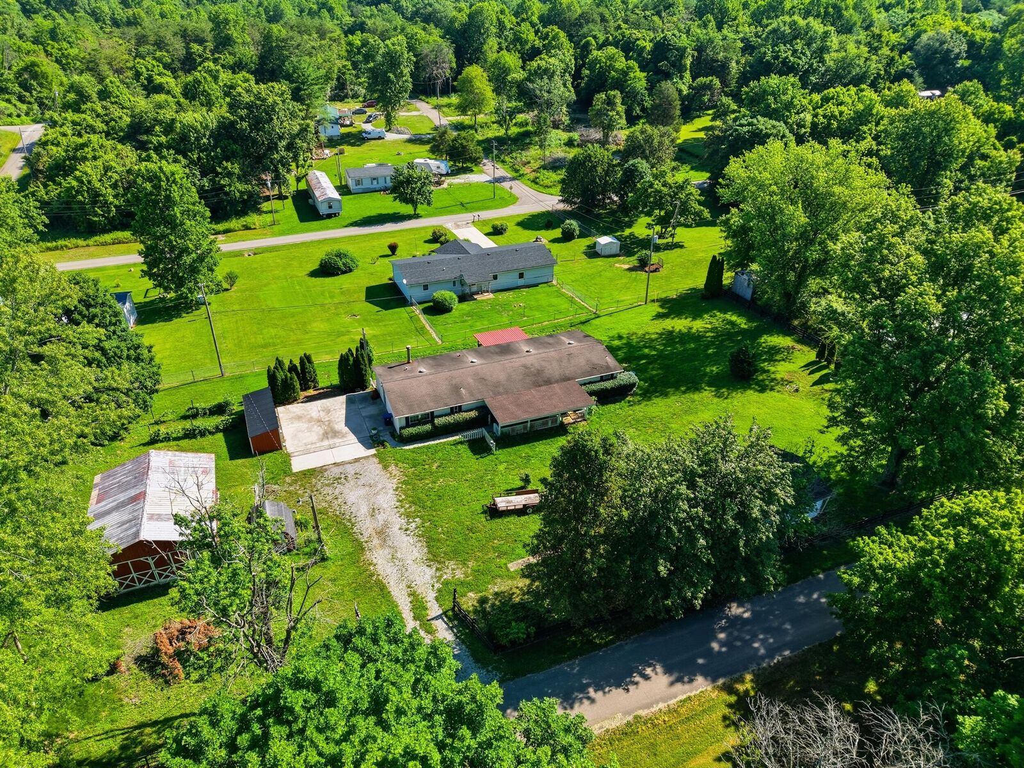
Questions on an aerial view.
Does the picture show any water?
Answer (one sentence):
No, there is no water in the image.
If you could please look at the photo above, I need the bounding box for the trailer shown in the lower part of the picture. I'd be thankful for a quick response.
[481,486,540,512]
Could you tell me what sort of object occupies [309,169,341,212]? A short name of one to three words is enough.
house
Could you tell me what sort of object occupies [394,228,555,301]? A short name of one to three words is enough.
house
